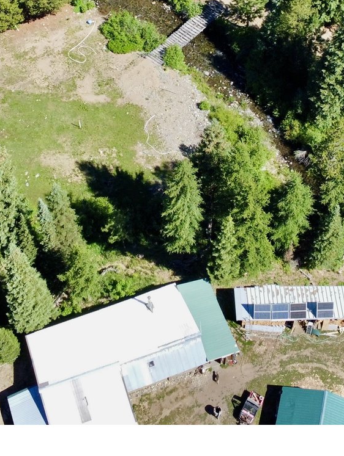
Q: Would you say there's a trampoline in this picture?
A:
No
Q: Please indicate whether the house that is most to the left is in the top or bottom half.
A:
bottom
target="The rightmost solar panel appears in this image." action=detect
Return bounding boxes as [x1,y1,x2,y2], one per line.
[316,298,334,317]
